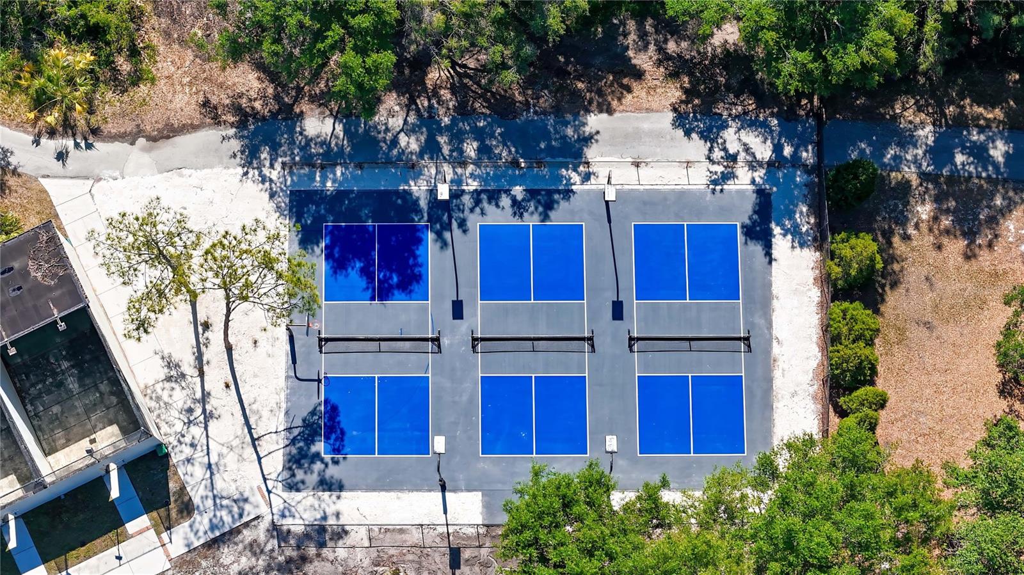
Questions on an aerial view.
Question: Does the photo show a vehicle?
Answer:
No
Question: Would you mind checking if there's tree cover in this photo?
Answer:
Yes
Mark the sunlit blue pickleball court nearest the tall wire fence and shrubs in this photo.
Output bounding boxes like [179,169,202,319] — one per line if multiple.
[633,222,746,455]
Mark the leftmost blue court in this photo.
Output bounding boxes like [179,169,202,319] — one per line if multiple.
[321,223,430,457]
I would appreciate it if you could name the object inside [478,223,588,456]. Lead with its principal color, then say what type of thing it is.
blue sports court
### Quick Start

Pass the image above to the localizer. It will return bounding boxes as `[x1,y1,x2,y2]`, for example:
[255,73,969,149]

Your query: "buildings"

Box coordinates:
[0,218,165,520]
